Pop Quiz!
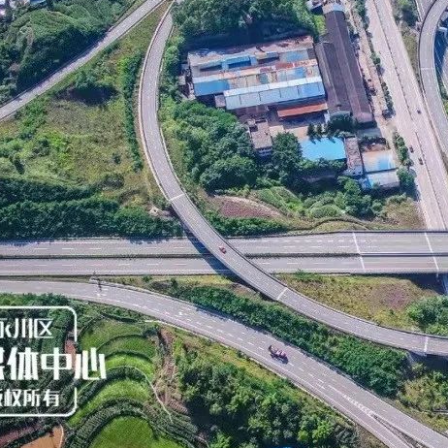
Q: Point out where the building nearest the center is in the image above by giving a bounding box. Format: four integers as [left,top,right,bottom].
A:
[248,125,273,161]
